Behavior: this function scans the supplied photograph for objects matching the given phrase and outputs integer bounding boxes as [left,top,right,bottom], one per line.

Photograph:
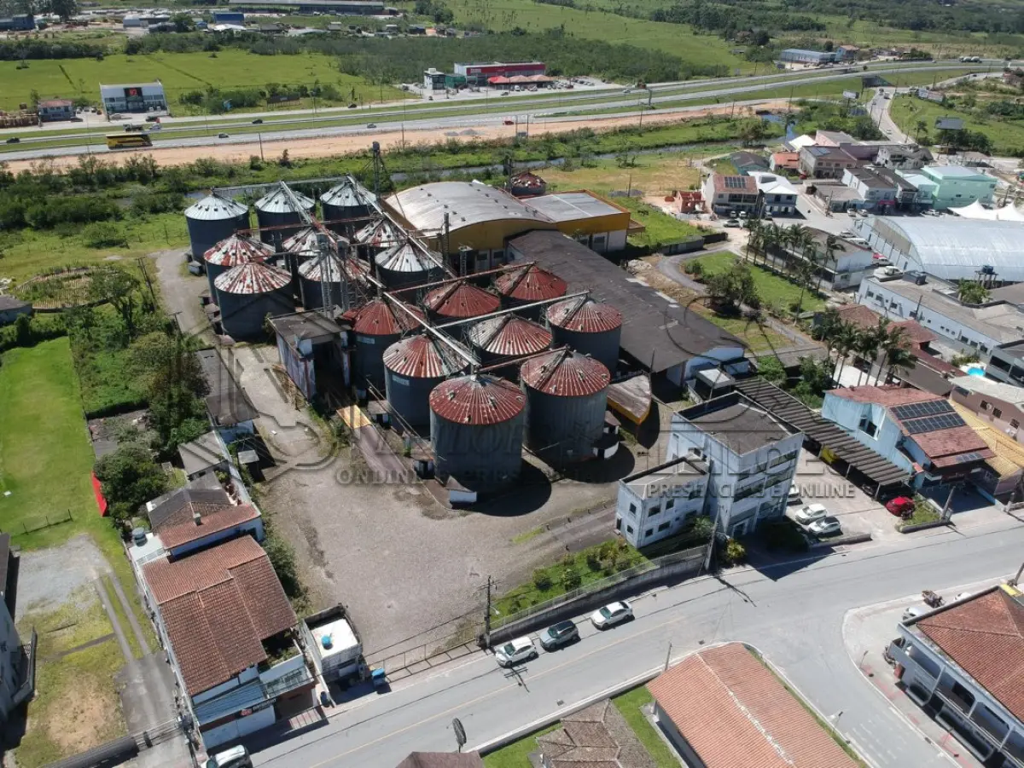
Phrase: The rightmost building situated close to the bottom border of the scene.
[875,575,1024,768]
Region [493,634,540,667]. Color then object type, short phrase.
white car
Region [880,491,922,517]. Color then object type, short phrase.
red car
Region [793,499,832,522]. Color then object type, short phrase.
white car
